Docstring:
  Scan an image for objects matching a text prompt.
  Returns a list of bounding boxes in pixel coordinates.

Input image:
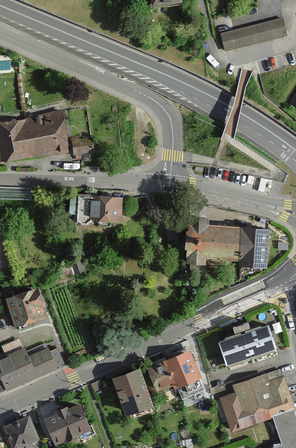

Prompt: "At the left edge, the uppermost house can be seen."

[0,110,69,164]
